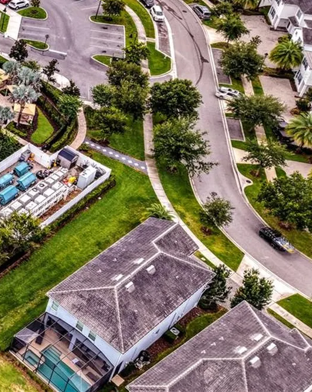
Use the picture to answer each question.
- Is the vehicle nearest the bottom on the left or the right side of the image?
right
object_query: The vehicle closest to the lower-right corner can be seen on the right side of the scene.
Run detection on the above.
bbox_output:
[246,215,301,252]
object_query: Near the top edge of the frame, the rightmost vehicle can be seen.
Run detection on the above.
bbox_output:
[190,0,216,17]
